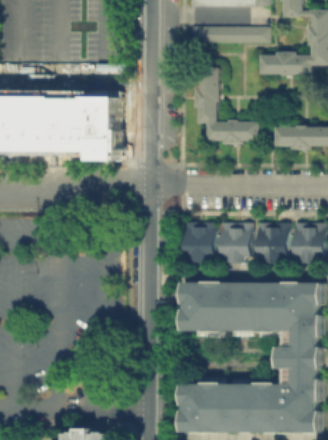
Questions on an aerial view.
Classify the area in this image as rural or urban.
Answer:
urban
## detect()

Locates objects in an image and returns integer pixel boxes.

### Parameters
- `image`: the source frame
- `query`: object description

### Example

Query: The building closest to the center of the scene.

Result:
[186,222,216,263]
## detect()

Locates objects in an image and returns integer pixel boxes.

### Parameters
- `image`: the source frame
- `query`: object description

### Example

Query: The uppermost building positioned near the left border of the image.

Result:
[0,95,114,164]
